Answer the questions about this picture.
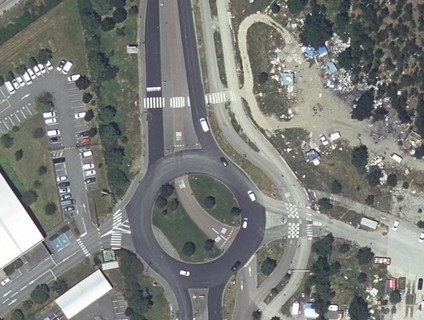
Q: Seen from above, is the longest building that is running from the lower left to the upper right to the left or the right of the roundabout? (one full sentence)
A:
Relative to the roundabout, the longest building that is running from the lower left to the upper right is on the left.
